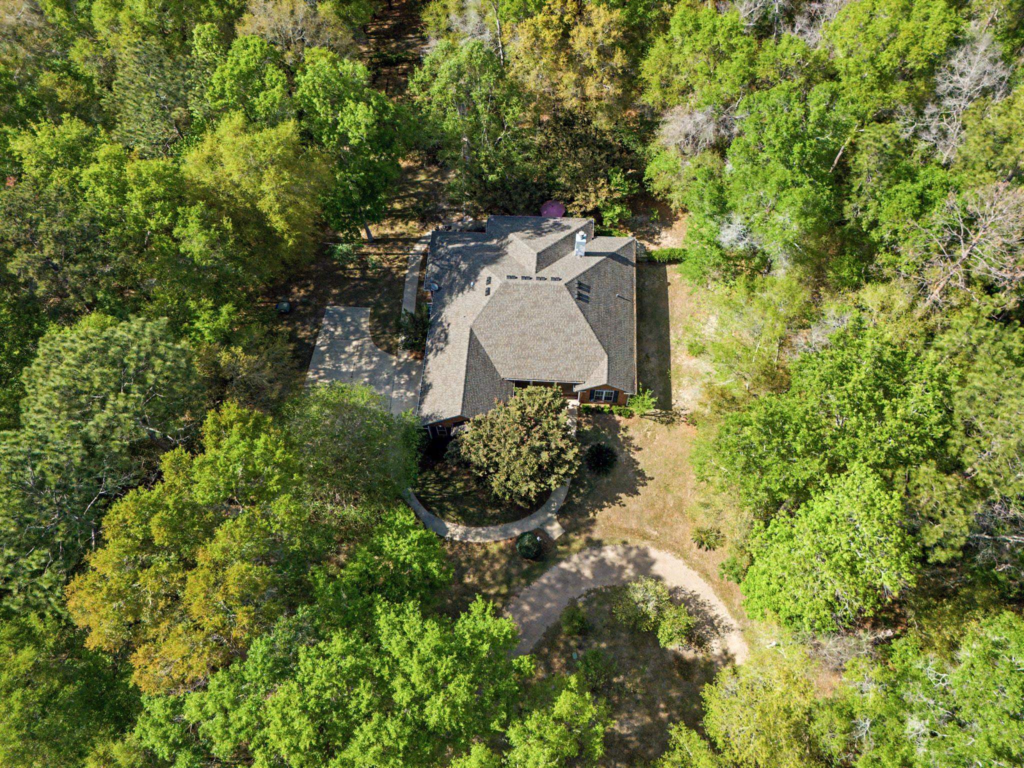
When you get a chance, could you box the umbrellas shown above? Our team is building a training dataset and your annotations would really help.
[540,200,565,217]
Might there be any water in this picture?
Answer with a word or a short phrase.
No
